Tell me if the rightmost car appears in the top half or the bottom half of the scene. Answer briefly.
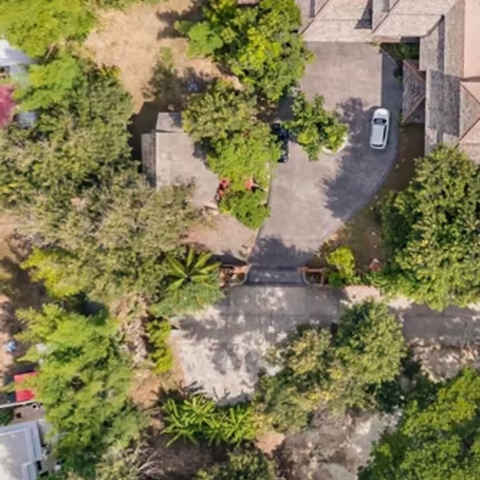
top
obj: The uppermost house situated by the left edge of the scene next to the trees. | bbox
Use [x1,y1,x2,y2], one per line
[0,38,43,85]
